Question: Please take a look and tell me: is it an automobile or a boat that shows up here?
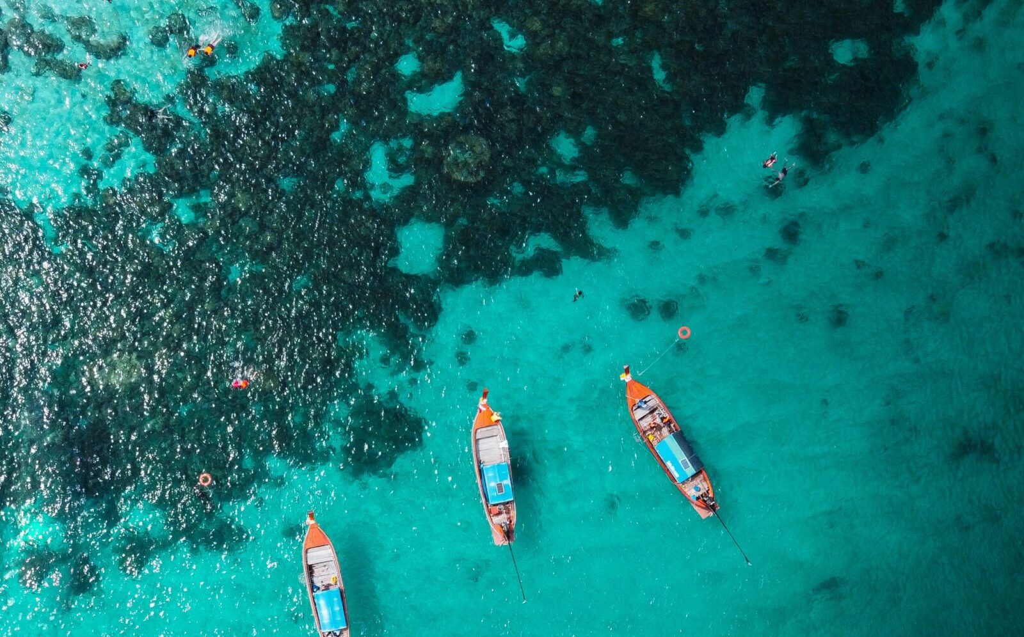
boat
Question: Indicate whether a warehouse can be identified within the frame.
No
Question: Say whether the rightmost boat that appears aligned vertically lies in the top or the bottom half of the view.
bottom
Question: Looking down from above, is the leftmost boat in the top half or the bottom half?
bottom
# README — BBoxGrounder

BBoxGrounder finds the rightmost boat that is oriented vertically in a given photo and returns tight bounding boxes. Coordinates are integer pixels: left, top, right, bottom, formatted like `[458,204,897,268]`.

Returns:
[471,391,527,604]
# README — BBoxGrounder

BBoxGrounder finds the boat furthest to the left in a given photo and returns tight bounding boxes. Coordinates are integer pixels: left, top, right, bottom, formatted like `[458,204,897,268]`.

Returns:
[301,512,355,637]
